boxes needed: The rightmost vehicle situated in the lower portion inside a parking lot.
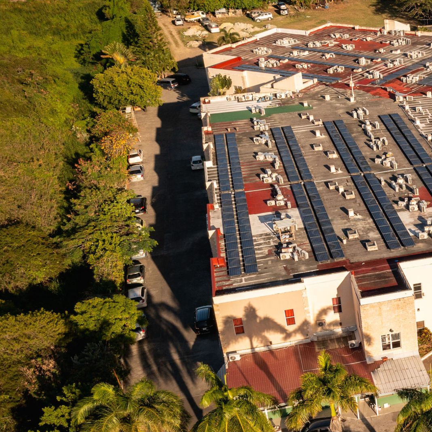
[189,303,216,339]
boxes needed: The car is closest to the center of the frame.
[188,153,205,171]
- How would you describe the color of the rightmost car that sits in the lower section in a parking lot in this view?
black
